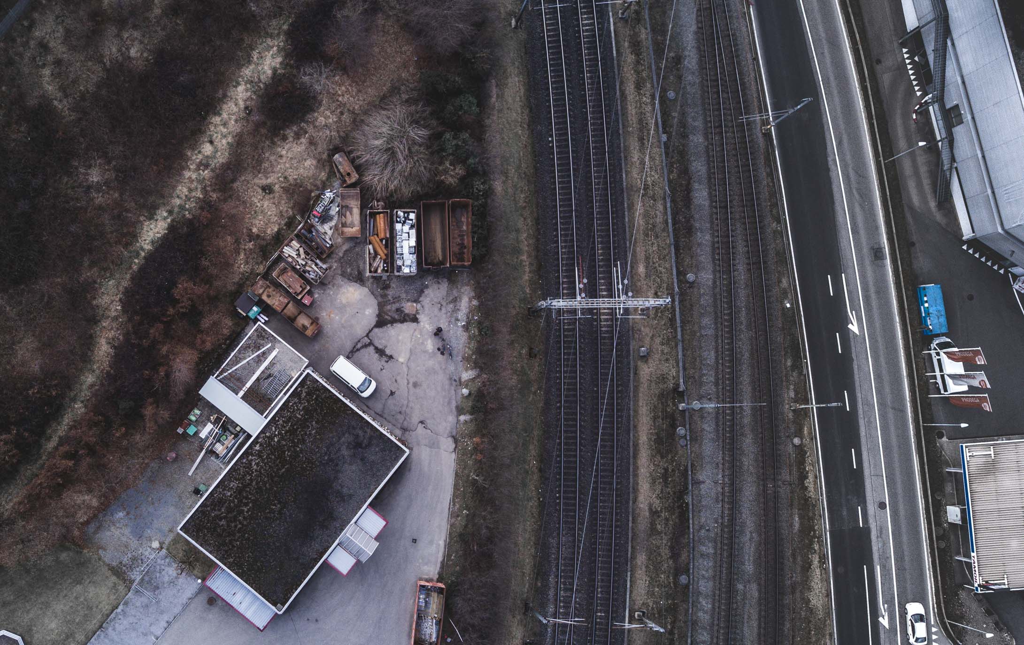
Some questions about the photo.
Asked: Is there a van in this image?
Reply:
Yes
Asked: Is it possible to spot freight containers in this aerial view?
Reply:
Yes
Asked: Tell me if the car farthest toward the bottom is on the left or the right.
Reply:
right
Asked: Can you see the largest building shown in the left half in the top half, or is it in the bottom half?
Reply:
bottom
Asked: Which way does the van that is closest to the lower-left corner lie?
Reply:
at an angle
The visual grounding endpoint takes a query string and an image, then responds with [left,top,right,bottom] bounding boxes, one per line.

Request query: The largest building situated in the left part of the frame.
[179,366,408,632]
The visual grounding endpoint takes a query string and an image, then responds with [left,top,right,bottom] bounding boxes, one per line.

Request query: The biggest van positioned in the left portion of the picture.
[328,355,377,398]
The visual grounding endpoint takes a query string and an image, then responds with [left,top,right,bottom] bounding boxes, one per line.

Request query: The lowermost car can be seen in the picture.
[902,601,930,645]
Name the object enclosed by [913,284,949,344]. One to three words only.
trailer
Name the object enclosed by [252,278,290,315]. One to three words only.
shipping container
